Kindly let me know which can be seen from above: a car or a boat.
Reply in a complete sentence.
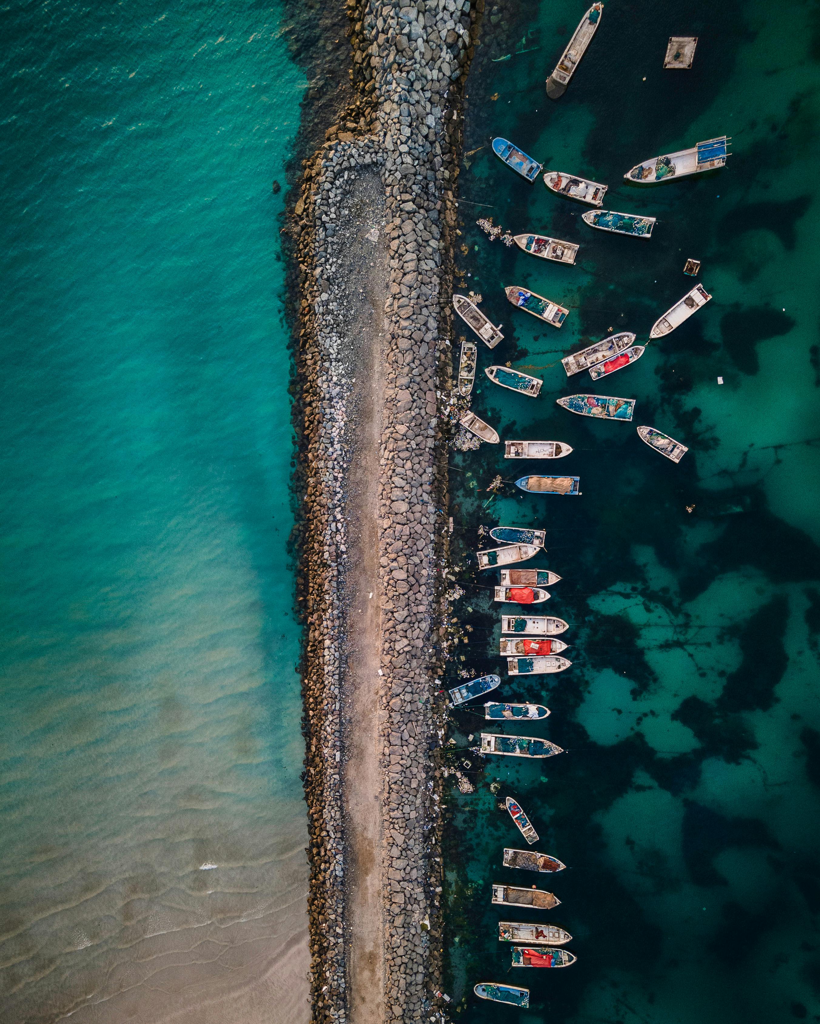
Looking from above, you can make out a boat.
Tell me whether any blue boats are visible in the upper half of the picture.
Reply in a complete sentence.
Yes, in the upper half of the picture there is a blue boat.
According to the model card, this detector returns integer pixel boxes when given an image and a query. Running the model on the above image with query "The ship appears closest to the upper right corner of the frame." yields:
[663,35,699,70]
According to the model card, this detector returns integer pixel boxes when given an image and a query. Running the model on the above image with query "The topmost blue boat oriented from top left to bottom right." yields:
[491,137,544,182]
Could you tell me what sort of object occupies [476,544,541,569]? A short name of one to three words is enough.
boat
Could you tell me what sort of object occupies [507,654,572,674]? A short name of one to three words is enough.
boat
